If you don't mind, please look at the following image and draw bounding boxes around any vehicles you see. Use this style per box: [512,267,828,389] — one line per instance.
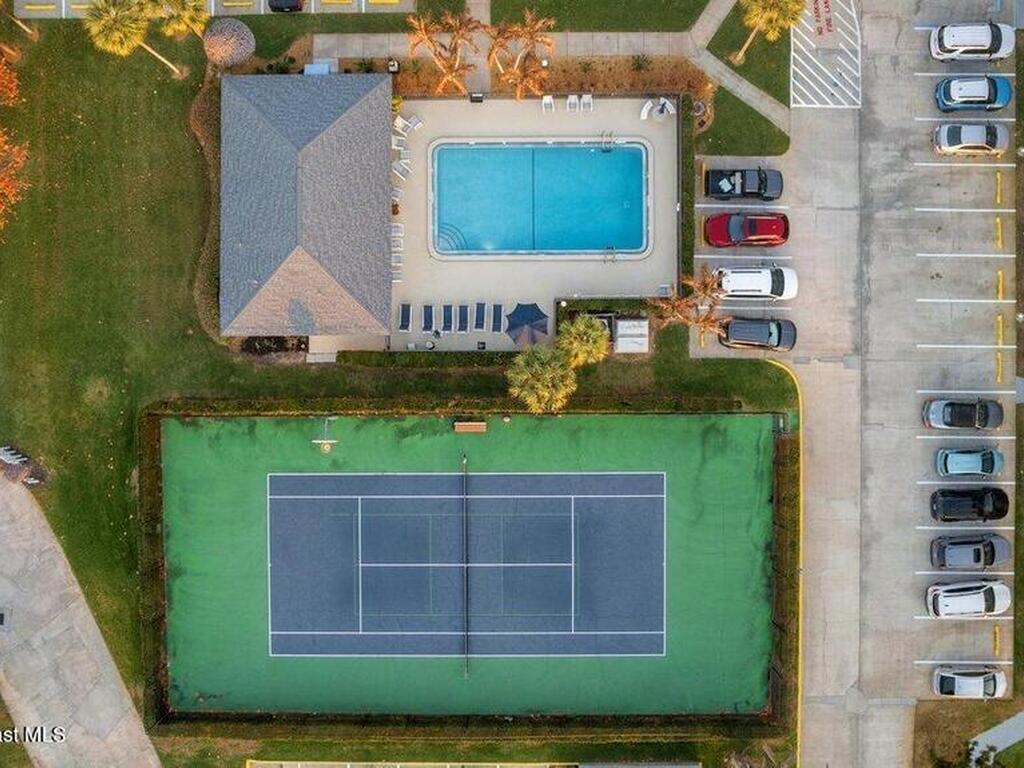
[930,663,1007,704]
[703,209,790,248]
[269,0,304,14]
[934,445,1004,480]
[920,397,1003,434]
[718,315,797,352]
[713,263,799,302]
[931,120,1009,159]
[929,18,1014,63]
[934,73,1009,114]
[924,579,1011,621]
[702,163,784,202]
[928,534,1010,573]
[928,487,1009,526]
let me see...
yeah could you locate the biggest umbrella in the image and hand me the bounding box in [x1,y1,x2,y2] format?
[505,306,547,348]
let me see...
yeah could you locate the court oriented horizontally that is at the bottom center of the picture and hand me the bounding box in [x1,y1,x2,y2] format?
[160,413,798,713]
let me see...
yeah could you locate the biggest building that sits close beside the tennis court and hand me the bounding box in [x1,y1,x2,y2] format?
[220,64,392,362]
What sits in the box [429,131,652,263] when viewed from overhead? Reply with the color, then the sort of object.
blue swimming pool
